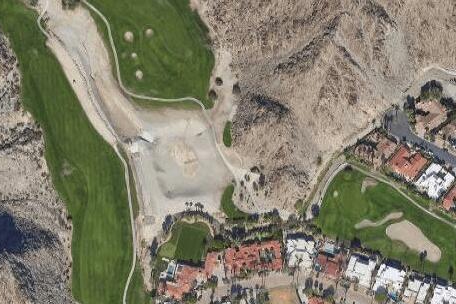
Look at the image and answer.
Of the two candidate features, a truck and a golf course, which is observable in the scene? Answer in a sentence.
I can see a golf course in this picture.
